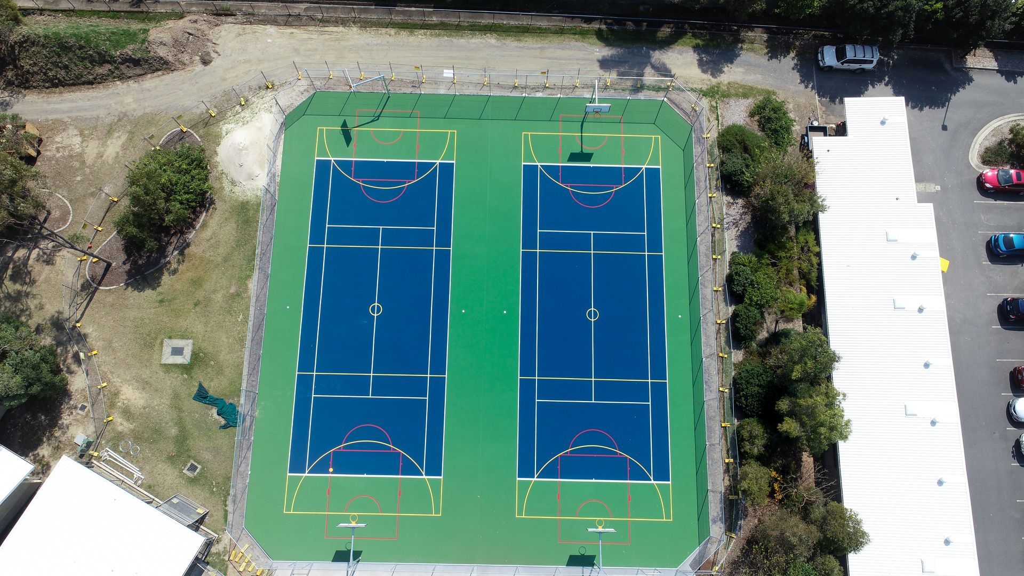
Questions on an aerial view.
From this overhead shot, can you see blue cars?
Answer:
Yes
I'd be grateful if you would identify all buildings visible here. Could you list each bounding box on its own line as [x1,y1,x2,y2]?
[0,454,232,576]
[803,95,980,576]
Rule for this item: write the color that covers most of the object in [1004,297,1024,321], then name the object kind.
black car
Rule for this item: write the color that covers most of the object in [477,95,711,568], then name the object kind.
green sports court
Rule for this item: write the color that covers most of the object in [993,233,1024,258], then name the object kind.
blue car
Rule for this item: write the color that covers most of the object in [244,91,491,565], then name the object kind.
green sports court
